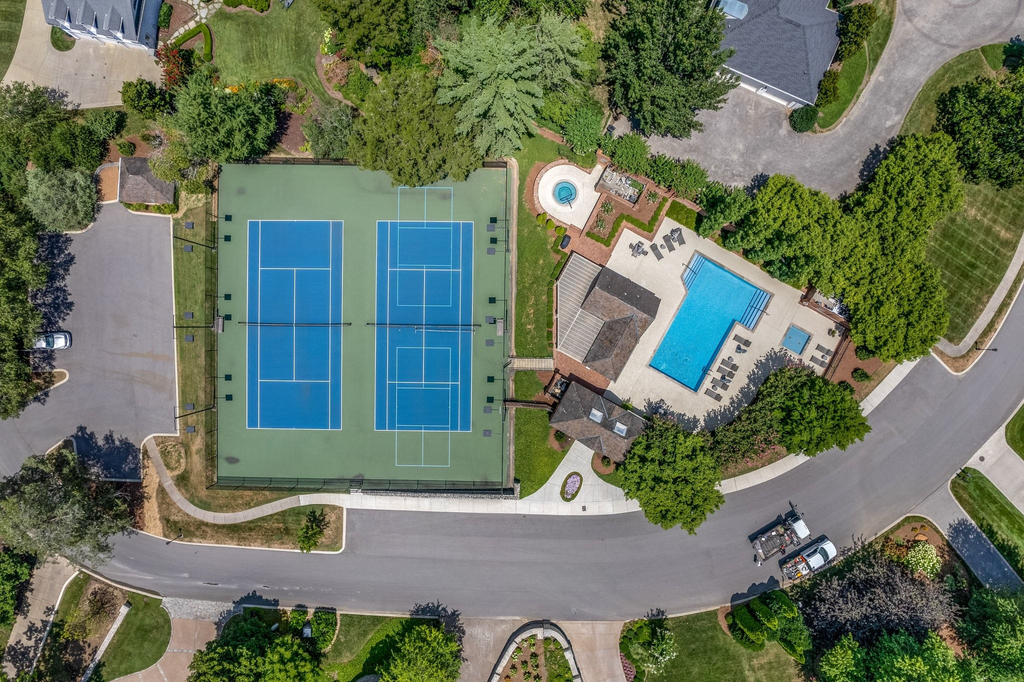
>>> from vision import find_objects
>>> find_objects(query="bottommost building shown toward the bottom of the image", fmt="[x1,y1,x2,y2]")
[548,379,648,462]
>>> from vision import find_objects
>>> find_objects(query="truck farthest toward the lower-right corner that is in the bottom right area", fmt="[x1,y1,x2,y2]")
[780,540,835,582]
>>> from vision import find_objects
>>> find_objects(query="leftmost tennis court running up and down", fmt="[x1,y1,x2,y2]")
[216,164,359,489]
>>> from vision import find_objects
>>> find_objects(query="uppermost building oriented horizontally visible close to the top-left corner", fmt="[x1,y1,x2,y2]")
[39,0,164,63]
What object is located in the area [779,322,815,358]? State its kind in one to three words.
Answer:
swimming pool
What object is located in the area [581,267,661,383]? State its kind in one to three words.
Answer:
building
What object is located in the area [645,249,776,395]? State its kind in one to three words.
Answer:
swimming pool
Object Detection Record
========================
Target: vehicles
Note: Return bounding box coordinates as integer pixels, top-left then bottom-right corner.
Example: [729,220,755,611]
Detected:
[25,330,70,351]
[780,540,835,582]
[751,514,815,562]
